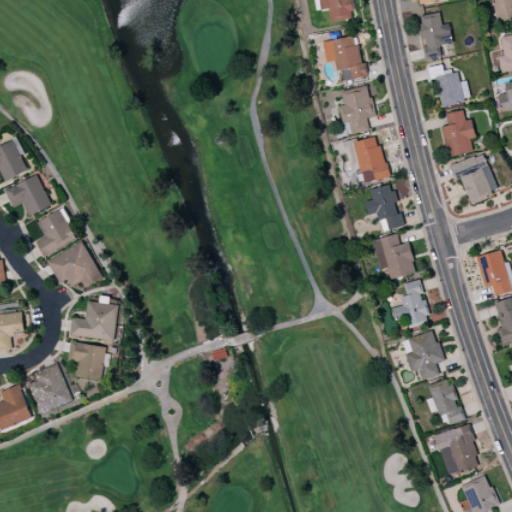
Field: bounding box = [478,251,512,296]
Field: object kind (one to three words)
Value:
house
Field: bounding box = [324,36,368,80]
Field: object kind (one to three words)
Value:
house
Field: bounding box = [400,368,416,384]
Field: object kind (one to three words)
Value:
swimming pool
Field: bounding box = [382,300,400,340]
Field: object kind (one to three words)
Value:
swimming pool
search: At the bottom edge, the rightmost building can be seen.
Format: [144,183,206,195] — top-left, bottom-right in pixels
[462,474,504,512]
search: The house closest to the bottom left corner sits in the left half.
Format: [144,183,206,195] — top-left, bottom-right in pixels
[0,385,37,434]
